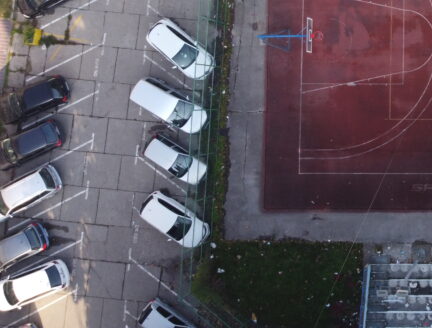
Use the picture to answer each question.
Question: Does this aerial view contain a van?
Yes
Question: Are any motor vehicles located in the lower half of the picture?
Yes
